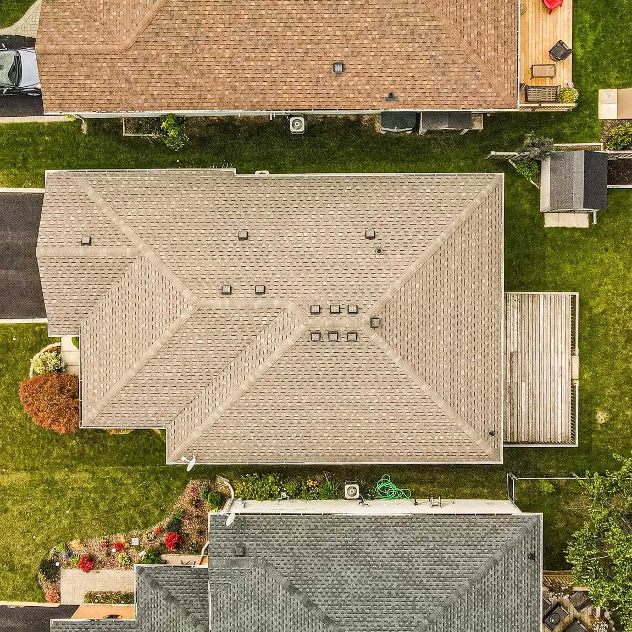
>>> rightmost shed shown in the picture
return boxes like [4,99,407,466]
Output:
[541,150,608,224]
